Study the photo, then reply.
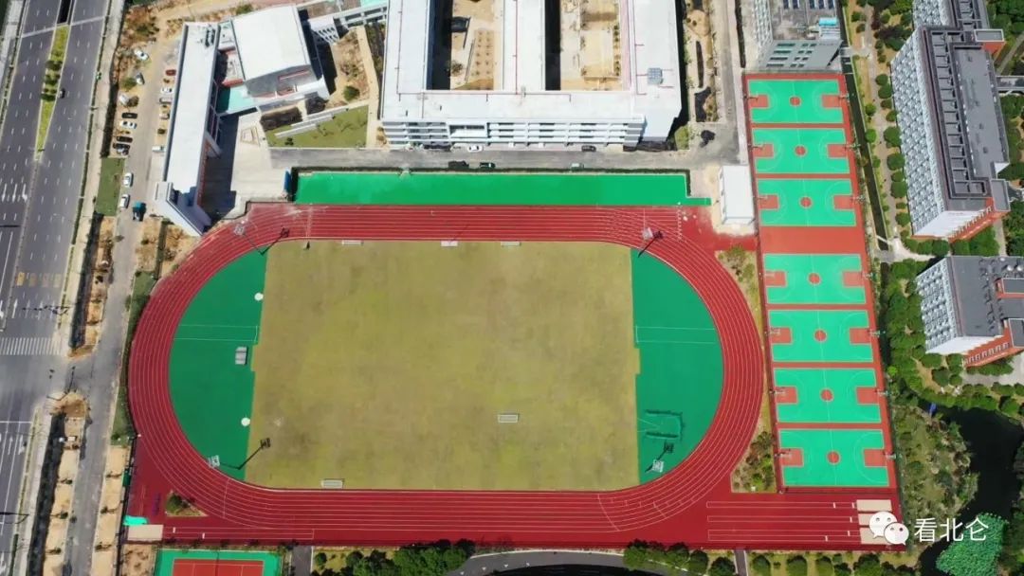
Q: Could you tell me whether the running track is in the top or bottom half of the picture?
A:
bottom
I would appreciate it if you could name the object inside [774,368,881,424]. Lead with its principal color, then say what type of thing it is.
green basketball court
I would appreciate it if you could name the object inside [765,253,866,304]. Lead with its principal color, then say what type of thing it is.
green basketball court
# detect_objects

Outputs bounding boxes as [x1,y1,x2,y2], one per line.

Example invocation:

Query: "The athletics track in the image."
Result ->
[125,203,901,552]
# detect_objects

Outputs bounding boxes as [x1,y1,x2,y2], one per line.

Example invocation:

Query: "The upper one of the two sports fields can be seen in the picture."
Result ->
[296,172,712,205]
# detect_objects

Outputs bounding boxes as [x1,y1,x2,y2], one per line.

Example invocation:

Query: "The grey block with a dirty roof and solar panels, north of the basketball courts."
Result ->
[751,0,844,67]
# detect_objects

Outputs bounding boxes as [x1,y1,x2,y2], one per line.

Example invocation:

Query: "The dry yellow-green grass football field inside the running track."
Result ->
[245,240,640,491]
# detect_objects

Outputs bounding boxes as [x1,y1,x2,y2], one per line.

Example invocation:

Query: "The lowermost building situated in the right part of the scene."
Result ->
[915,257,1024,354]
